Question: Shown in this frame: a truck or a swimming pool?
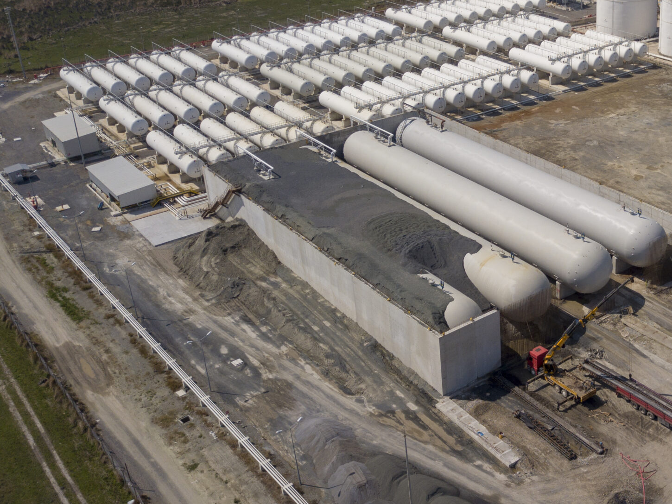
truck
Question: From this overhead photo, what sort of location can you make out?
industrial area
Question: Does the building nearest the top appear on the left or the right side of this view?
left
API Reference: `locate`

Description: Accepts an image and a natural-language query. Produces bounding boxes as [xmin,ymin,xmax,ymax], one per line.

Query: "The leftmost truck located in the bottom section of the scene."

[520,287,622,417]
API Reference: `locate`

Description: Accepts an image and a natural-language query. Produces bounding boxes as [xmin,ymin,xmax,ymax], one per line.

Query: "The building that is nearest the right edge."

[86,148,165,207]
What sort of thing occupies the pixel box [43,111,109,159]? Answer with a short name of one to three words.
building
